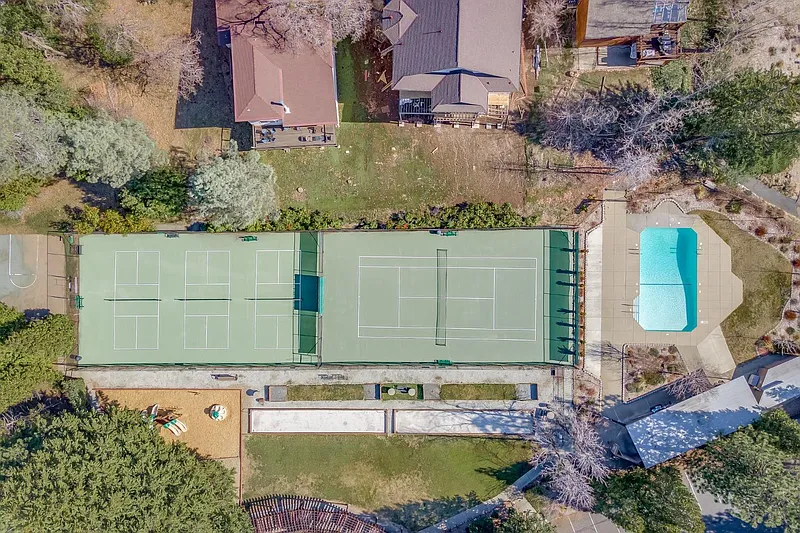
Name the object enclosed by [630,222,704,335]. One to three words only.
swimming pool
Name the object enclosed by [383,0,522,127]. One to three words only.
house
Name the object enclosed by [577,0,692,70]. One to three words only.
house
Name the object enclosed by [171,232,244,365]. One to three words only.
sports court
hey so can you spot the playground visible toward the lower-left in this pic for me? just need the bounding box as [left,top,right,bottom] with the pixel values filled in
[98,388,241,509]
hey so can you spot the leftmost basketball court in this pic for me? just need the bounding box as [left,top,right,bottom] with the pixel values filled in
[0,234,66,334]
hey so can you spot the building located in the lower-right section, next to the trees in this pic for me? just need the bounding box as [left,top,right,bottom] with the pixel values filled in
[626,351,800,467]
